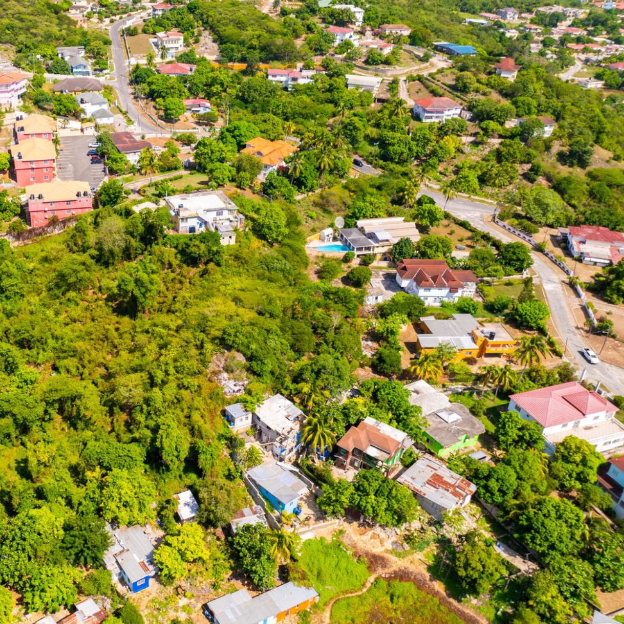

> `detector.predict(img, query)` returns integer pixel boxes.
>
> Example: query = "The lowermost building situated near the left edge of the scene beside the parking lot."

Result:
[19,183,91,227]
